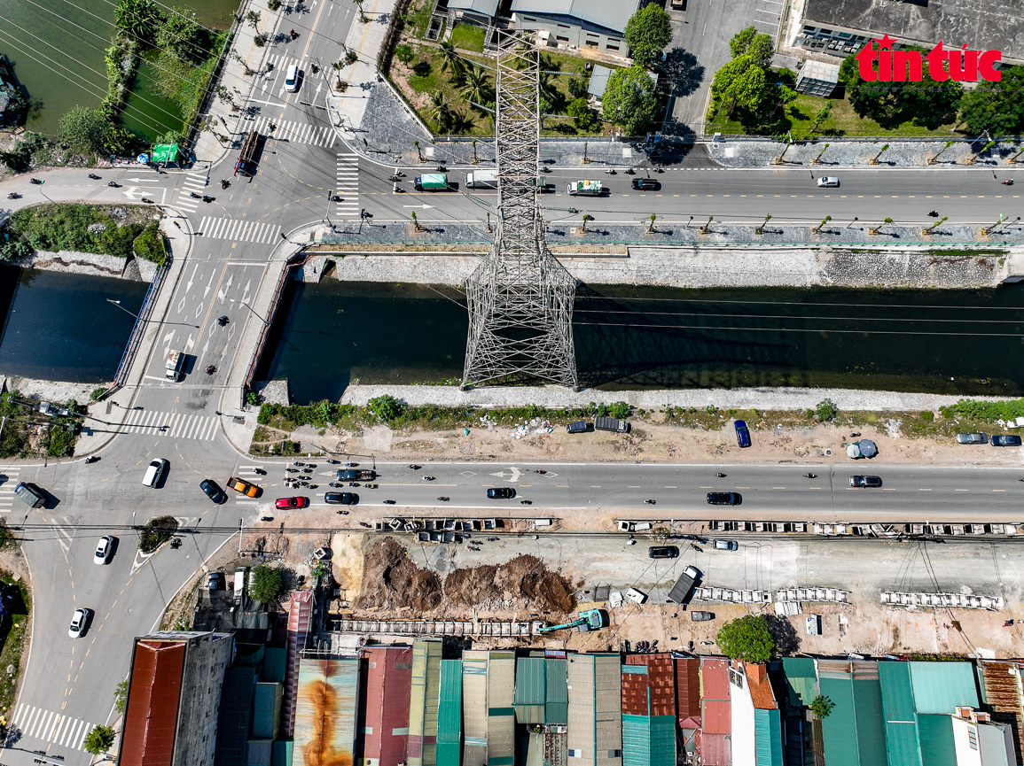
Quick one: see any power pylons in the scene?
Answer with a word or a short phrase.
Yes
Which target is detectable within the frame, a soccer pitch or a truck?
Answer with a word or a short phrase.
truck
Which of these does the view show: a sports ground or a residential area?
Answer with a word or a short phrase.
residential area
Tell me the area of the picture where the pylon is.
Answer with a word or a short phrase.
top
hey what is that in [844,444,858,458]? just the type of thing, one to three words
umbrella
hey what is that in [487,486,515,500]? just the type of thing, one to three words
car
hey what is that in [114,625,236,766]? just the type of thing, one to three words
building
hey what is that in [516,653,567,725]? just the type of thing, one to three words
house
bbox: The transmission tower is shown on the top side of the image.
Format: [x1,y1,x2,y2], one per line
[445,10,588,395]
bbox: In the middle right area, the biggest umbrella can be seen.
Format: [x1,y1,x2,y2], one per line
[857,439,876,458]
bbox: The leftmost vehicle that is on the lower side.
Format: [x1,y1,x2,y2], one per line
[12,483,48,513]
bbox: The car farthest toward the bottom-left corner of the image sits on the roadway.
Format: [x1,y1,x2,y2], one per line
[69,607,91,639]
